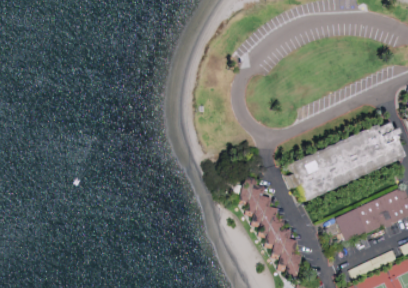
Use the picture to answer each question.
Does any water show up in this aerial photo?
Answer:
Yes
